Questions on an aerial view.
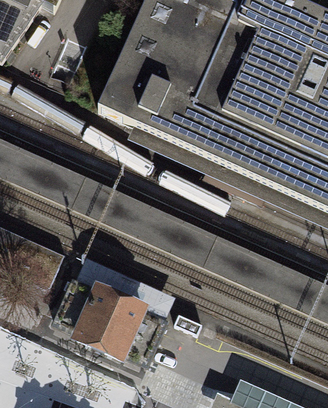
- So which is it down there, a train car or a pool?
train car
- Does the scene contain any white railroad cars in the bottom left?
No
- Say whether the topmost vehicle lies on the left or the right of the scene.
left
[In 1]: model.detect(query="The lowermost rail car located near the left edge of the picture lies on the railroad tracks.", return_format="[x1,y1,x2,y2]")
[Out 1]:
[11,86,84,136]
